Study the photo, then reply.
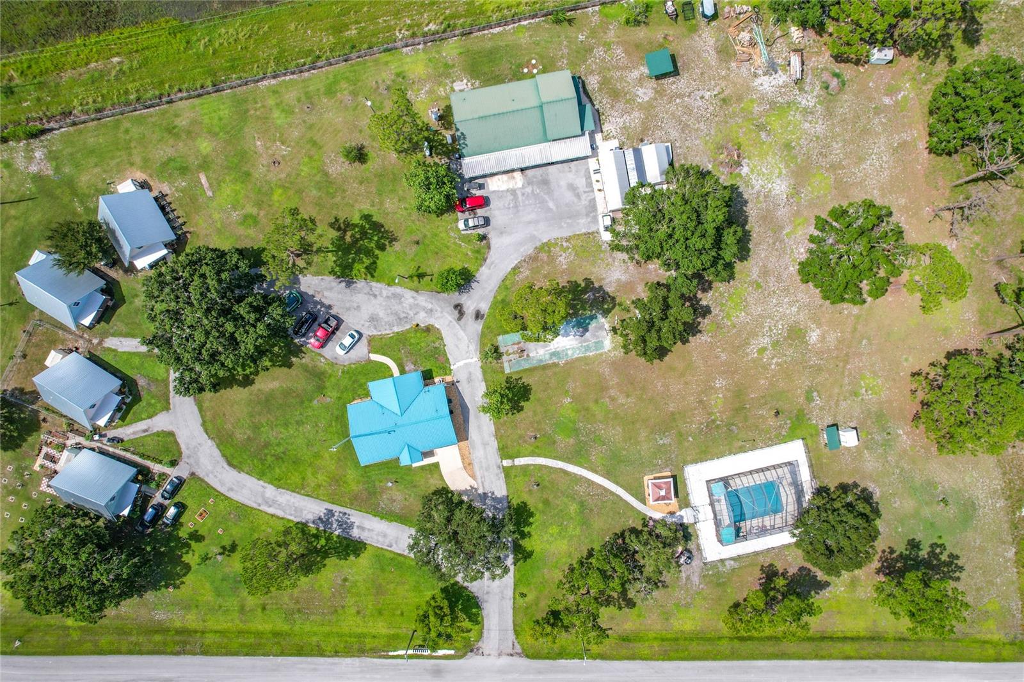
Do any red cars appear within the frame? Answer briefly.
Yes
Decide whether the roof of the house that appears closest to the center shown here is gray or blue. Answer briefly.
blue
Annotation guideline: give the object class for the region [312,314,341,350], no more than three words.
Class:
truck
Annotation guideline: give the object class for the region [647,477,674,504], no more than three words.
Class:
gazebo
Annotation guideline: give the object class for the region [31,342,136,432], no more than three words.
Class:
building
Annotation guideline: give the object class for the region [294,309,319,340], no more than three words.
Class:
car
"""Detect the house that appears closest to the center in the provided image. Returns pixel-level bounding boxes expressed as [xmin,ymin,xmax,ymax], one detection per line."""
[347,371,457,466]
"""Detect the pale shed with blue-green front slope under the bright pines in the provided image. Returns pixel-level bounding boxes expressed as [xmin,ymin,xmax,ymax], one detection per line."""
[867,47,894,65]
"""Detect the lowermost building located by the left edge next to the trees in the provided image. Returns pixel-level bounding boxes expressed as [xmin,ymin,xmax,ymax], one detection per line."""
[48,440,153,525]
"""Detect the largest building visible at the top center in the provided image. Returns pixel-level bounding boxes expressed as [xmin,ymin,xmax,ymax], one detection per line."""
[450,69,595,181]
